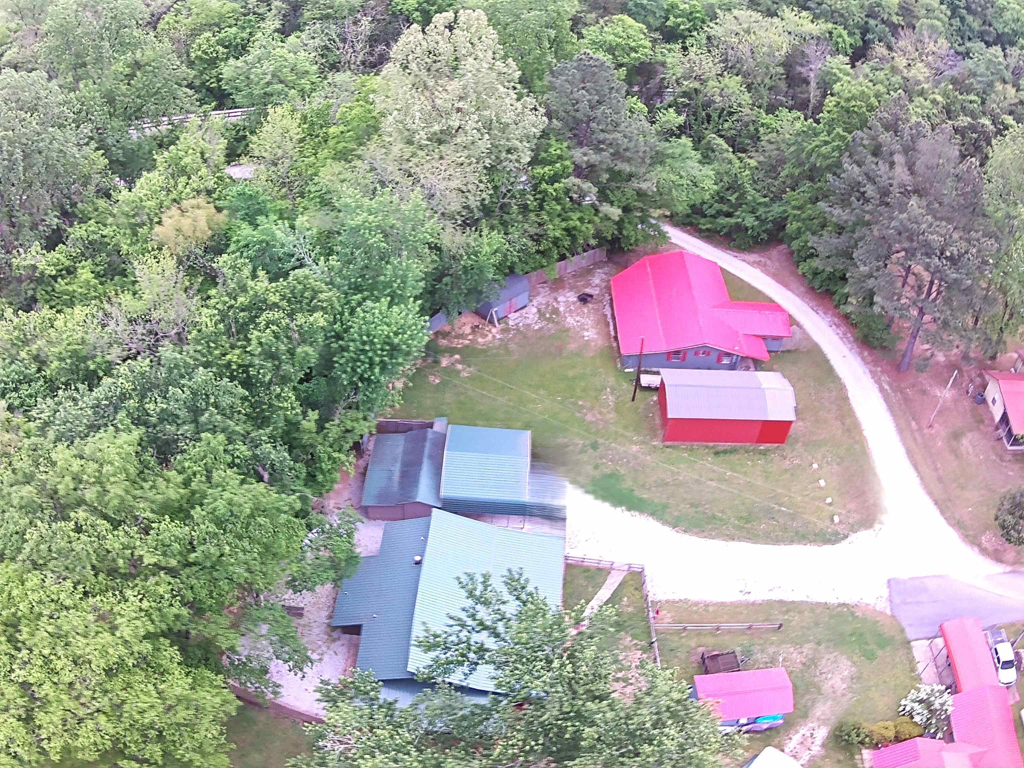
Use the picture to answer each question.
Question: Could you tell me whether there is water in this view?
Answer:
No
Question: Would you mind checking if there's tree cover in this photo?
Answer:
Yes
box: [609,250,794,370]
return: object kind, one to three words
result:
house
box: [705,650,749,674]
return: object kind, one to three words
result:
trailer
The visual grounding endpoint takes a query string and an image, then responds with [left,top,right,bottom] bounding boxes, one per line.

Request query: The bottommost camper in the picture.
[759,744,809,768]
